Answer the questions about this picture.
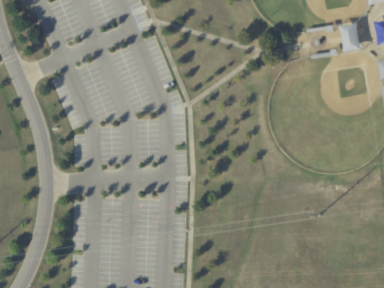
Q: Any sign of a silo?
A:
No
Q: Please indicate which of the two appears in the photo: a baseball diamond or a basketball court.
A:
baseball diamond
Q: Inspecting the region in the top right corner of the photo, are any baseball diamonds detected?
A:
Yes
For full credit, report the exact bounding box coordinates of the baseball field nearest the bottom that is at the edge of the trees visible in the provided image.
[270,51,384,173]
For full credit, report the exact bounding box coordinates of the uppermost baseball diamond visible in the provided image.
[253,0,370,32]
